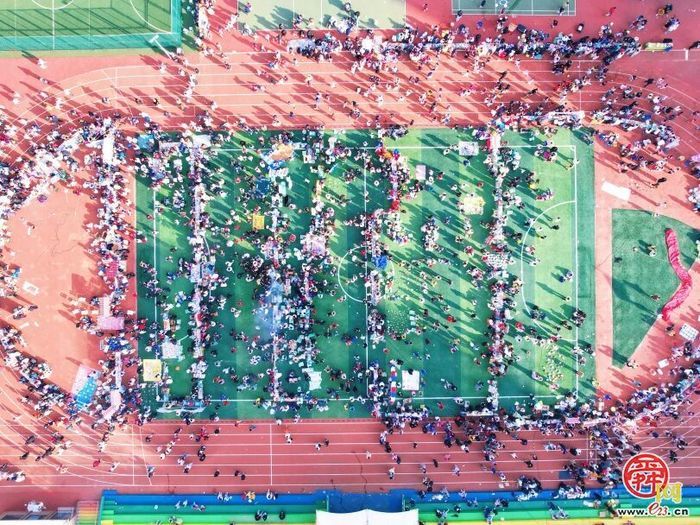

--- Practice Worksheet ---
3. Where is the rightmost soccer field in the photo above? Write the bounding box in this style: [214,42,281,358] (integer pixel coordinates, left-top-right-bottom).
[136,129,596,420]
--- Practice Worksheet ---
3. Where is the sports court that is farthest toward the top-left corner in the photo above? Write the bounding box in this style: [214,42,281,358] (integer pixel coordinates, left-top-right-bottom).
[236,0,403,29]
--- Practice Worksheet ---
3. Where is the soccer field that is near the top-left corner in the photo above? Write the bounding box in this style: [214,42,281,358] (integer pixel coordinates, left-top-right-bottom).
[0,0,178,51]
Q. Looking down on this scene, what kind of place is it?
sports ground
